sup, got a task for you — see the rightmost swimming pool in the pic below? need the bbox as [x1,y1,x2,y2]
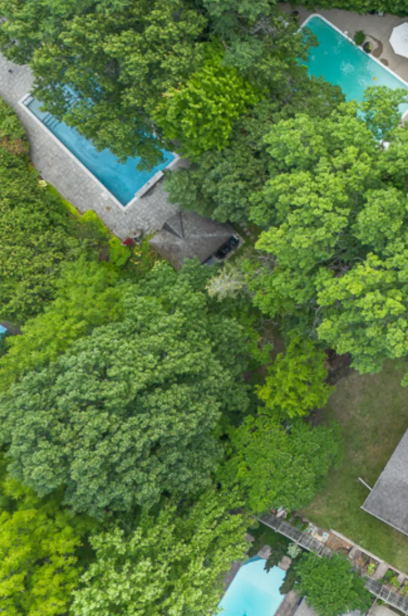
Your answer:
[273,9,408,110]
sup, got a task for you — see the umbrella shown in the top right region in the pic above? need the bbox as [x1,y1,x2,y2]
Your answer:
[387,19,408,62]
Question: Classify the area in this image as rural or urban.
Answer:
rural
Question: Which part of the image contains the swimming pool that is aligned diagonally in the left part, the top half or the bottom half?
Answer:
top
